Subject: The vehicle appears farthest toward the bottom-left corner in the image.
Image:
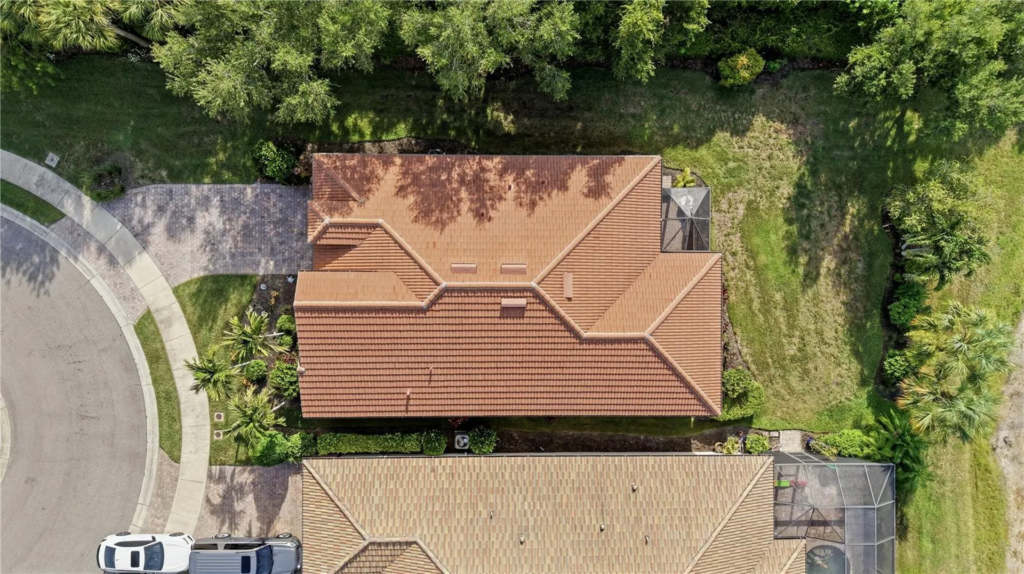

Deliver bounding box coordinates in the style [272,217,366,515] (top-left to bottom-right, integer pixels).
[100,532,197,574]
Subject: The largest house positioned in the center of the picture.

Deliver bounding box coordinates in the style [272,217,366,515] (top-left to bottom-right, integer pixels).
[291,152,725,419]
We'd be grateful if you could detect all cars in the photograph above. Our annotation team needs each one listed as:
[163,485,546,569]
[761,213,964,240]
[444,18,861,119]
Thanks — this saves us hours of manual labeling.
[100,532,197,574]
[189,532,301,574]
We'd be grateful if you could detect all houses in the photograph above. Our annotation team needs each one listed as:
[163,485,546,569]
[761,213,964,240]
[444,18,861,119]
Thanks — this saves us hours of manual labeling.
[299,452,809,574]
[291,152,725,419]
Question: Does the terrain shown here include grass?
Yes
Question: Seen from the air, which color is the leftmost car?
white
